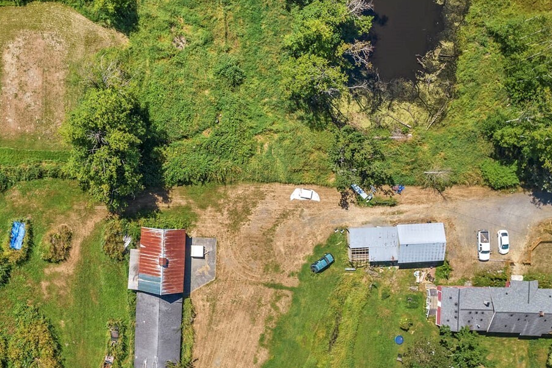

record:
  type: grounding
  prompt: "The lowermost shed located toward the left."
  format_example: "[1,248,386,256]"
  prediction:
[135,292,182,368]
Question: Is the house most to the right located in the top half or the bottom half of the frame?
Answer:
bottom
